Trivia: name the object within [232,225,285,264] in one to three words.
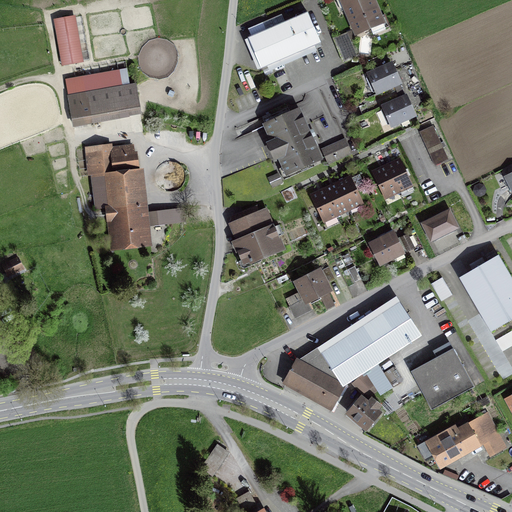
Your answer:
house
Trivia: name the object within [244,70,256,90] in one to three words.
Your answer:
vehicle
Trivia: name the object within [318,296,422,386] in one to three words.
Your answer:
building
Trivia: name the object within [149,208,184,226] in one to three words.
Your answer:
shed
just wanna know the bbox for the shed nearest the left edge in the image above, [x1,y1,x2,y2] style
[4,254,26,279]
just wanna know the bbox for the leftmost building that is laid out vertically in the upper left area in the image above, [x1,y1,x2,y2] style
[54,16,84,66]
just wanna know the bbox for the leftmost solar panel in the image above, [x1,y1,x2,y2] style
[336,34,354,60]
